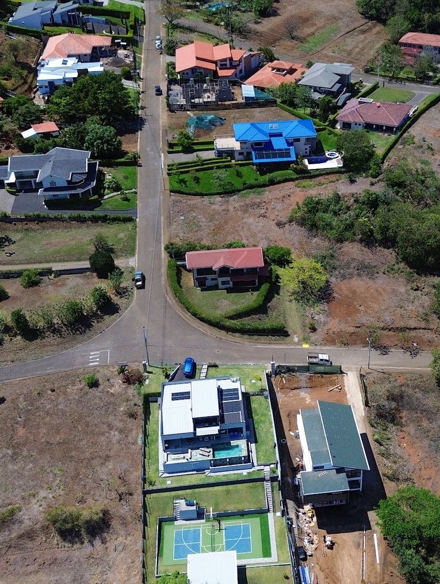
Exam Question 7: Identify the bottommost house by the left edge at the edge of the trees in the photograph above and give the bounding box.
[0,150,108,207]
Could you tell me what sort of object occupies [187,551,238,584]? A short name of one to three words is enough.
building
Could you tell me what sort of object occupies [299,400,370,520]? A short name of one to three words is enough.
house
